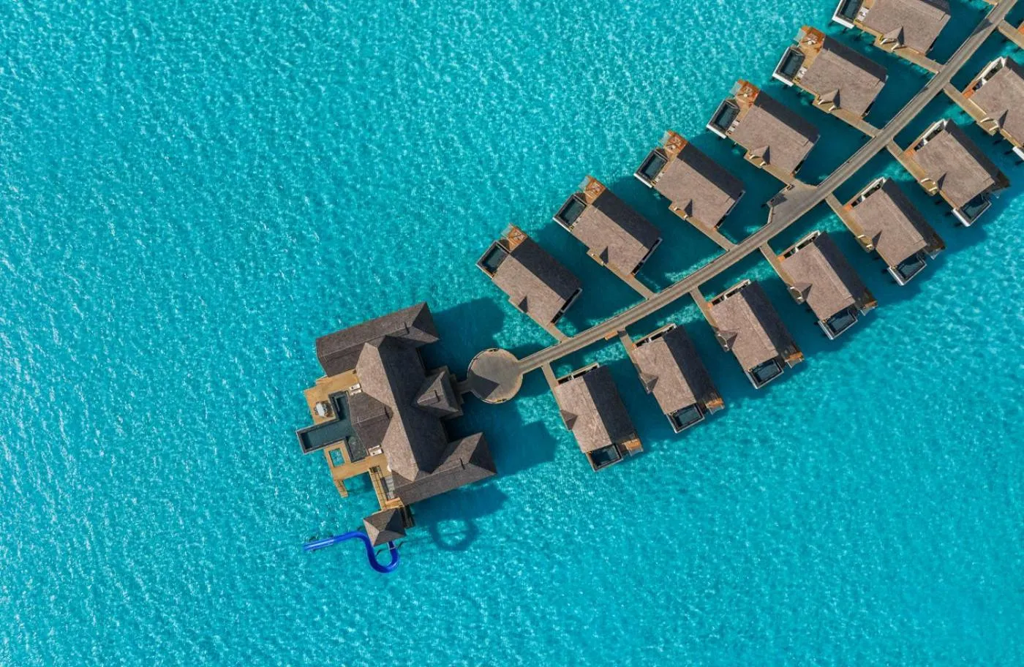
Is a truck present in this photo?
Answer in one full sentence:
No, I find no truck anywhere in the image.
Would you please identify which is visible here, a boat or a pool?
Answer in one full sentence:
The image shows a pool.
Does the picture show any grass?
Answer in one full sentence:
No, there is no grass in the image.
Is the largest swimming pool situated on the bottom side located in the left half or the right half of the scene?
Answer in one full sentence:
You can find the largest swimming pool situated on the bottom side on the left side of the picture.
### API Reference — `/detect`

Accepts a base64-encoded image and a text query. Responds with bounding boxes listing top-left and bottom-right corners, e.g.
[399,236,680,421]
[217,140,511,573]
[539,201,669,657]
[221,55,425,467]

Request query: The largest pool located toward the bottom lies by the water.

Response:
[296,387,373,463]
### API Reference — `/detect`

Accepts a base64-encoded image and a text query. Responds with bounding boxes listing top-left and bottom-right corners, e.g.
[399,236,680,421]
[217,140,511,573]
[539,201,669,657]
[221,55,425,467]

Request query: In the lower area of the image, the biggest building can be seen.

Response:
[305,302,496,511]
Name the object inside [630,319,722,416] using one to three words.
house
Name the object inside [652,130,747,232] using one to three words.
house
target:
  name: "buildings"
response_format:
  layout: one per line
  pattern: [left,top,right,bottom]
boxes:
[903,116,1009,226]
[493,222,586,326]
[842,174,944,272]
[706,275,801,370]
[554,357,643,456]
[960,59,1024,157]
[775,227,875,321]
[787,27,890,122]
[571,175,665,278]
[652,130,747,232]
[630,319,722,416]
[726,79,822,178]
[847,0,954,58]
[305,302,496,511]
